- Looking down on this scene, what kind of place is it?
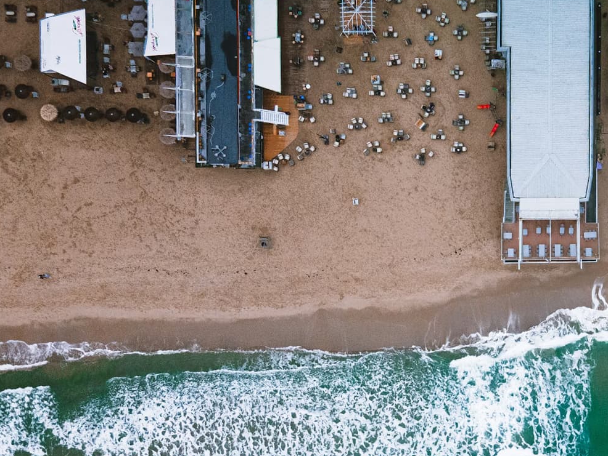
beach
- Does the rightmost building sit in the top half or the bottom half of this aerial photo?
top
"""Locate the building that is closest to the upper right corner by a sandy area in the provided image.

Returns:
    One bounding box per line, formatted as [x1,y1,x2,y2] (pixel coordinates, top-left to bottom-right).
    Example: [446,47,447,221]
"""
[498,0,594,201]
